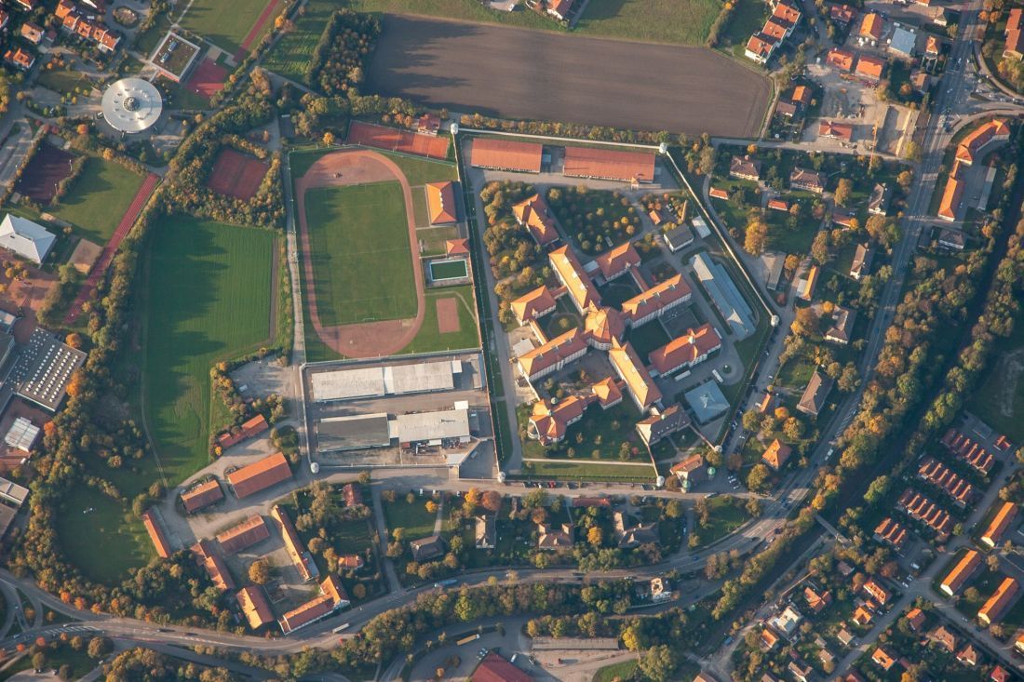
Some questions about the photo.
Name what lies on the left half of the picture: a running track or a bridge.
running track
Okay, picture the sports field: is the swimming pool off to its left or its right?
right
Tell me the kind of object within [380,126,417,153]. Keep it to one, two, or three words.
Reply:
tennis court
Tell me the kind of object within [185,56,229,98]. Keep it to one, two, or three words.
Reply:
sports court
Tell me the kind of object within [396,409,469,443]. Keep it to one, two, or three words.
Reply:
building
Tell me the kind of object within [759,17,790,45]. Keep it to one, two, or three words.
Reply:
house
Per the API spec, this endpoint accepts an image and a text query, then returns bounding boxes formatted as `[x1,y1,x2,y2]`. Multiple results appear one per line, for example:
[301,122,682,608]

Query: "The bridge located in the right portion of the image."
[792,502,869,563]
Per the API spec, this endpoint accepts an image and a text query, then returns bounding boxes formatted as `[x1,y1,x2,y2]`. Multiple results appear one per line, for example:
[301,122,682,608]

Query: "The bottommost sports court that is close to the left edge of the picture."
[16,138,79,199]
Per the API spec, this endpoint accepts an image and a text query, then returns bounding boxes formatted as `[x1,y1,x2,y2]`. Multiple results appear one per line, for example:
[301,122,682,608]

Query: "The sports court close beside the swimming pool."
[437,298,460,334]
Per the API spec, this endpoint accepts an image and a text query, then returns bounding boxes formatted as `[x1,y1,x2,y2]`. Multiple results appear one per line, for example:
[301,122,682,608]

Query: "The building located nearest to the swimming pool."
[446,239,468,256]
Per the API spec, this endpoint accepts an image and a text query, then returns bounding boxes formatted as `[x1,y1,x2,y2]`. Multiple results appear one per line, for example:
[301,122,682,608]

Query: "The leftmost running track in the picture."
[64,173,160,322]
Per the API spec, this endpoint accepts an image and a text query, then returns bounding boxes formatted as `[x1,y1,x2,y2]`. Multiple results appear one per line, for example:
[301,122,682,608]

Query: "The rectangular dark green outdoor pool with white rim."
[424,253,473,288]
